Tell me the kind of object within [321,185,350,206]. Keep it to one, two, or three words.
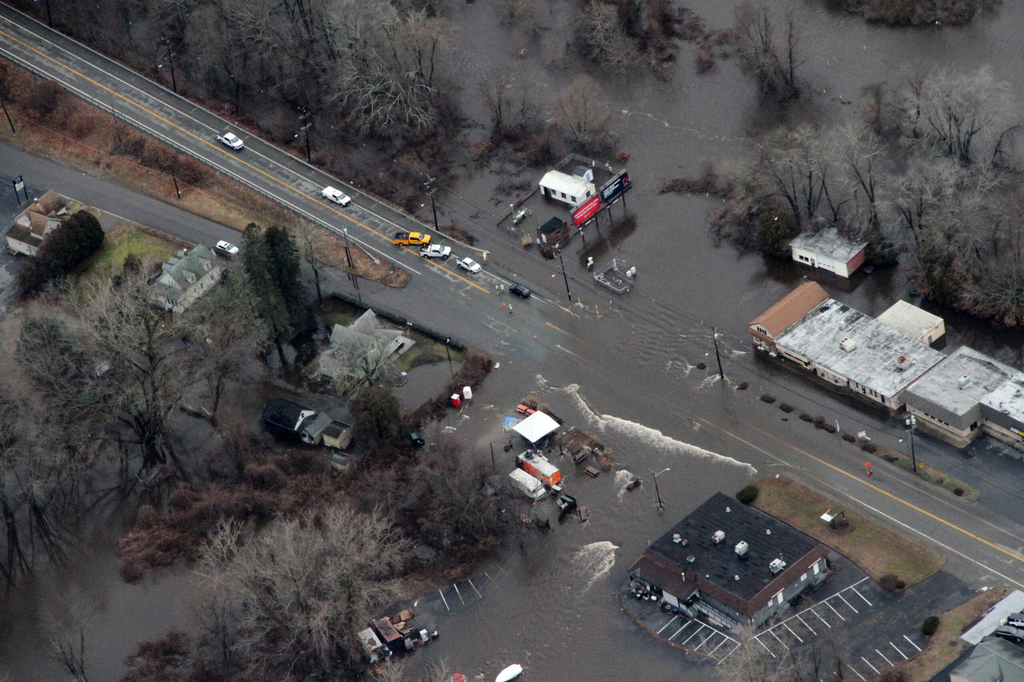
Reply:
truck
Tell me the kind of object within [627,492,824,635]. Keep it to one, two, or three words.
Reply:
building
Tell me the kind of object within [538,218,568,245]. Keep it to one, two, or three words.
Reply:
shed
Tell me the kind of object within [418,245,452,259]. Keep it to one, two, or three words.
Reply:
vehicle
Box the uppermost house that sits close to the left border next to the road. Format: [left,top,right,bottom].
[4,182,90,258]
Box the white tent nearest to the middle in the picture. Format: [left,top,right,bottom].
[513,412,561,453]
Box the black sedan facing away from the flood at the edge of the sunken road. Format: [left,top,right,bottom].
[506,283,532,299]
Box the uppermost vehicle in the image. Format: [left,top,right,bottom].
[215,132,243,150]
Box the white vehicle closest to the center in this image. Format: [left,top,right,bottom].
[453,255,481,274]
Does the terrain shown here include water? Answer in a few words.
Yes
